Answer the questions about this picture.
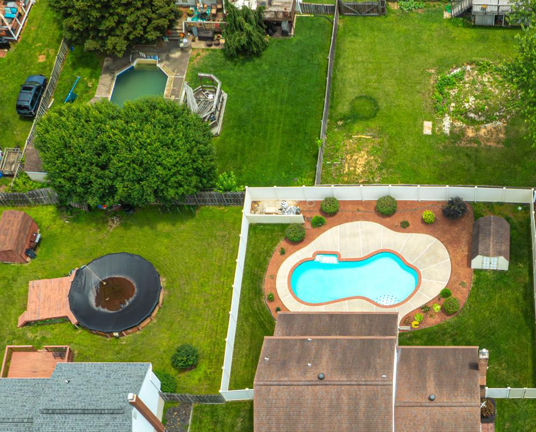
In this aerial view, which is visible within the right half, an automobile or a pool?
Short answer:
pool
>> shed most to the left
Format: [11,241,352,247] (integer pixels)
[0,208,43,266]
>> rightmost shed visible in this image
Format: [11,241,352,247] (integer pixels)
[472,212,511,269]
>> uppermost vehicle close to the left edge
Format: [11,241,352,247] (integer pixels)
[13,75,50,119]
